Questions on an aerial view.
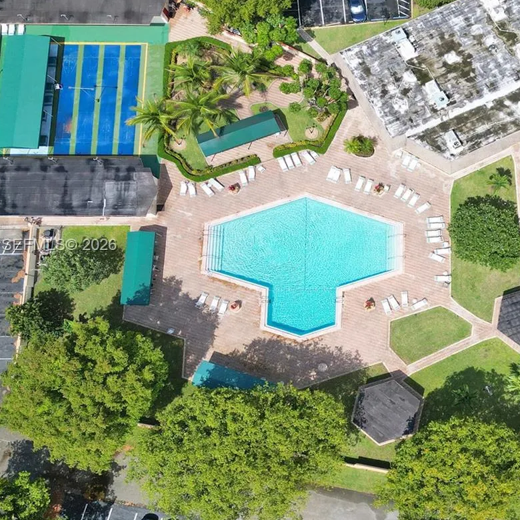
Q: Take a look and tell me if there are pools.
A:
Yes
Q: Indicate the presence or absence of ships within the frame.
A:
No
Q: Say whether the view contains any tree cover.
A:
Yes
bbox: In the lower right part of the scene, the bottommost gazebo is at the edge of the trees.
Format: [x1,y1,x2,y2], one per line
[353,377,423,446]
